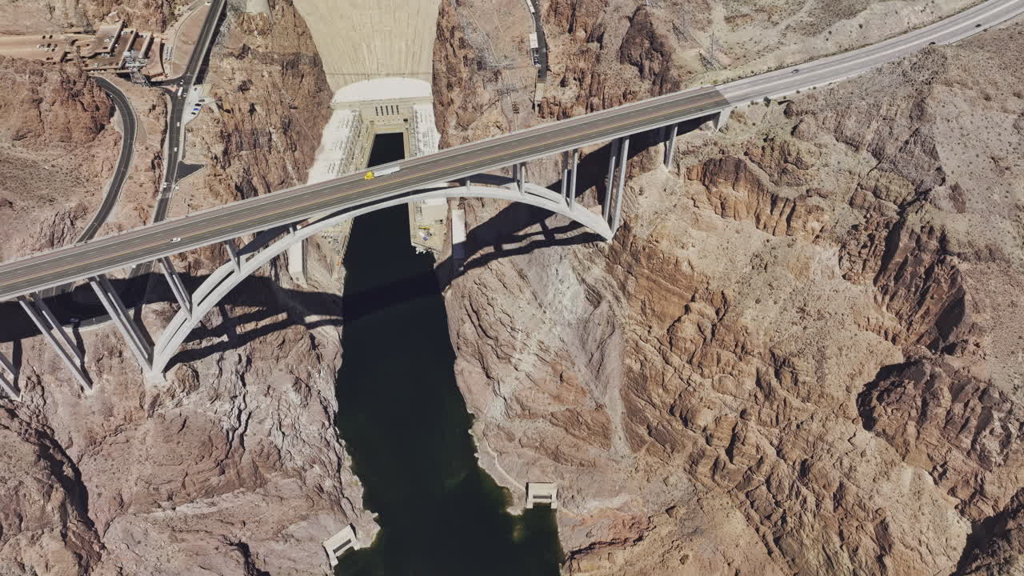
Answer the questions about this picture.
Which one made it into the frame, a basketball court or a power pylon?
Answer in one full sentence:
The image shows a power pylon.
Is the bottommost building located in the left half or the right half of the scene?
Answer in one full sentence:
It is on the left.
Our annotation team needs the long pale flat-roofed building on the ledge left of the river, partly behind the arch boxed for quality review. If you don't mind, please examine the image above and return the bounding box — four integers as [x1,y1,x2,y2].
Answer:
[288,240,309,291]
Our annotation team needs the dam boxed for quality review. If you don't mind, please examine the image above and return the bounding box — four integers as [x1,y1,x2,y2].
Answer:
[288,0,454,116]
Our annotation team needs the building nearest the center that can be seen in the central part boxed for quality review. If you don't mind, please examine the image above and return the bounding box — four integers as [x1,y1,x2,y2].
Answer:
[452,197,466,272]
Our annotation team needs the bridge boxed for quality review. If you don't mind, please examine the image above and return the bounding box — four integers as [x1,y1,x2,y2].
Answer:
[0,82,737,396]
